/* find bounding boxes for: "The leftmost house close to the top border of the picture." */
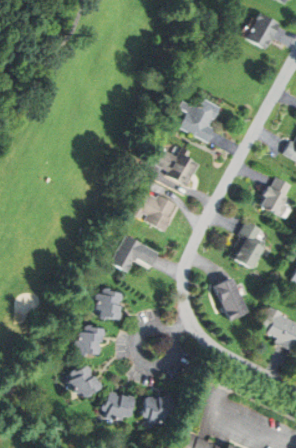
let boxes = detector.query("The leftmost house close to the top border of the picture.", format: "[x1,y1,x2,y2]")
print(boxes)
[248,14,282,48]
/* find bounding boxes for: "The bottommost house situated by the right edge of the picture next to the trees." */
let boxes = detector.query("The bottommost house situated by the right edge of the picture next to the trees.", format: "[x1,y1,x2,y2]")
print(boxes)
[262,309,296,349]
